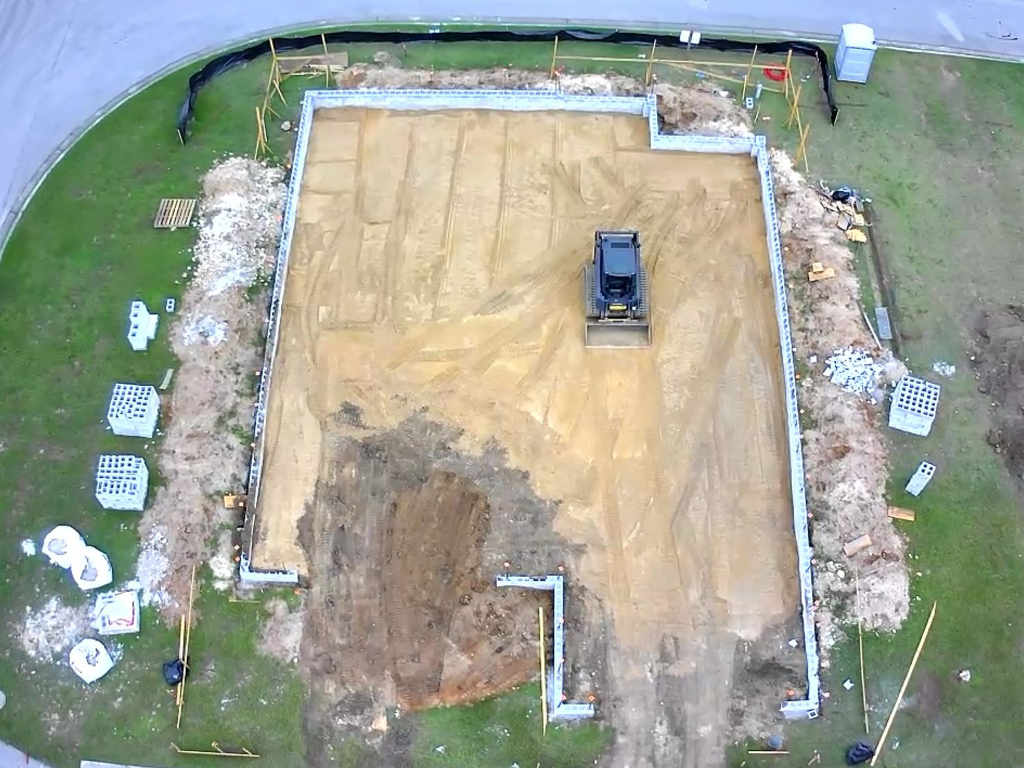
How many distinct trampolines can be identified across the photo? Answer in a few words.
0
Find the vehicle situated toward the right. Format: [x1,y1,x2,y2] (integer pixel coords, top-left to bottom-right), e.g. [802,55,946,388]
[585,229,652,348]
